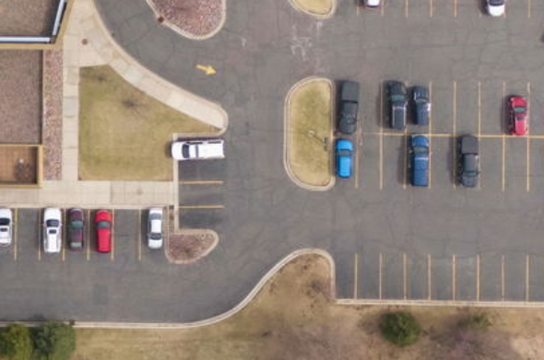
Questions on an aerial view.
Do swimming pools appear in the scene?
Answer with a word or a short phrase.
No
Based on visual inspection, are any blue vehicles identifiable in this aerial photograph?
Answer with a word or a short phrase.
Yes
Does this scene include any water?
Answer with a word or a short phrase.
No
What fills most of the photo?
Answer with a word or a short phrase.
paved ground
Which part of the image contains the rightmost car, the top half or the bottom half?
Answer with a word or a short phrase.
top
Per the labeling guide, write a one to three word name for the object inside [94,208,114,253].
car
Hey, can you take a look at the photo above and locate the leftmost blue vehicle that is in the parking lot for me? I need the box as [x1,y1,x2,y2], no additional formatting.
[335,138,355,178]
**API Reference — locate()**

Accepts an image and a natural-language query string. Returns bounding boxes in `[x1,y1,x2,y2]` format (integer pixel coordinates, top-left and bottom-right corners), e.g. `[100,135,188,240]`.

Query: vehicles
[66,207,87,251]
[386,80,409,130]
[335,138,355,178]
[361,0,380,8]
[144,207,166,250]
[408,134,431,188]
[410,84,431,125]
[336,78,360,134]
[0,207,14,245]
[483,0,506,16]
[42,207,63,254]
[456,134,480,188]
[94,208,114,253]
[506,93,528,136]
[171,138,226,161]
